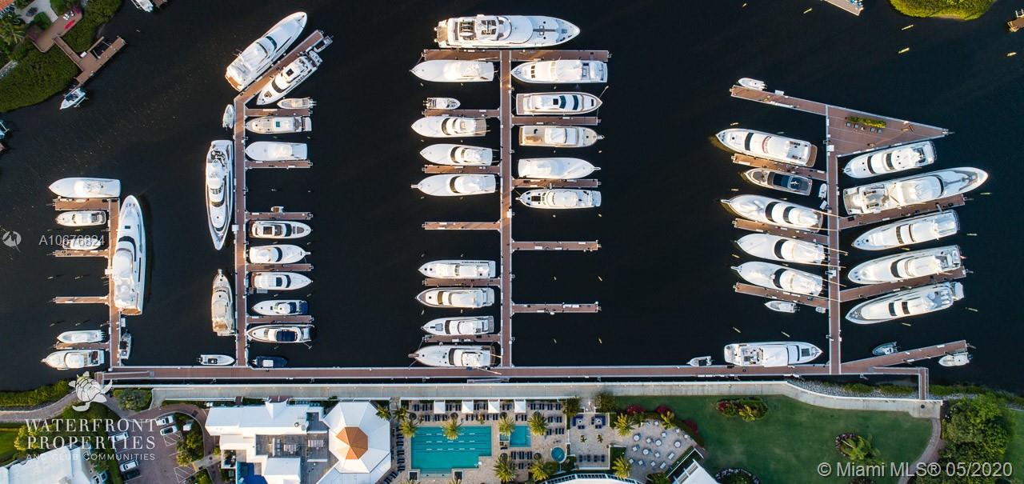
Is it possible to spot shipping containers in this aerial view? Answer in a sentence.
No, I find no shipping container anywhere in the image.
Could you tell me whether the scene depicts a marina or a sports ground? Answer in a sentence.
It's a marina.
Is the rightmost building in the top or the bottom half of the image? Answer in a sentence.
Seen from above, the rightmost building lies in the bottom half of the view.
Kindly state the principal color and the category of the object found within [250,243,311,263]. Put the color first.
white boat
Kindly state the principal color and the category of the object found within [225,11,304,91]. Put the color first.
white boat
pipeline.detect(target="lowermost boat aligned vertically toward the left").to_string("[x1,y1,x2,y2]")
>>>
[123,330,135,359]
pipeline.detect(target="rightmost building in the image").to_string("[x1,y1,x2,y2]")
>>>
[667,447,720,484]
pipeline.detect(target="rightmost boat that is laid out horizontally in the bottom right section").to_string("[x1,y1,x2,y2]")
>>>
[936,354,971,367]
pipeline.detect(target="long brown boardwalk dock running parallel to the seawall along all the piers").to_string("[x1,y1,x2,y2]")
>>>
[110,340,969,378]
